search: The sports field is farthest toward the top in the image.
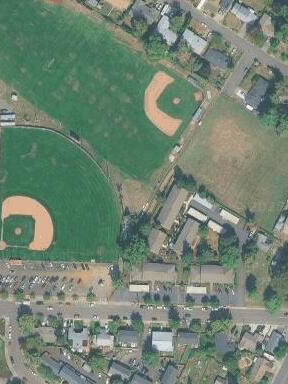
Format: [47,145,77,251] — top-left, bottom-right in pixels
[0,0,207,187]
